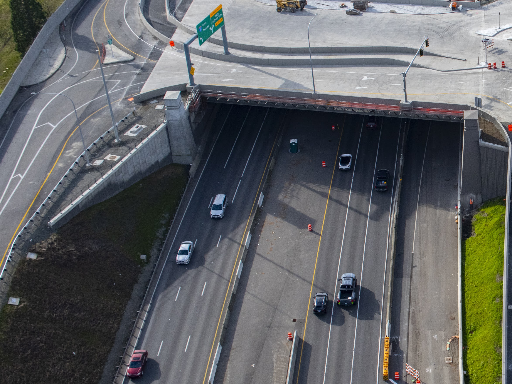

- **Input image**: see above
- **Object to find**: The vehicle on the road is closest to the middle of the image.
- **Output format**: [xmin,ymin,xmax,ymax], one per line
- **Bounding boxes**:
[209,193,227,217]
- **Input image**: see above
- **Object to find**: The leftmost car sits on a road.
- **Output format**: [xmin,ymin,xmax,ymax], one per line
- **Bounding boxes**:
[127,350,147,378]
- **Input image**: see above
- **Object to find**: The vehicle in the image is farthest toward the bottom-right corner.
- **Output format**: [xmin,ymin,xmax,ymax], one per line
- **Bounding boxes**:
[338,275,357,306]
